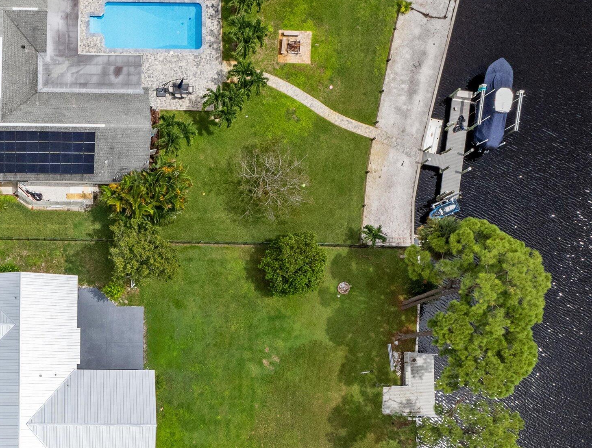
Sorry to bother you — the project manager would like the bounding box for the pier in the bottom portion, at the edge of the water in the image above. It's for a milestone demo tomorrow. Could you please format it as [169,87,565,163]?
[382,351,445,417]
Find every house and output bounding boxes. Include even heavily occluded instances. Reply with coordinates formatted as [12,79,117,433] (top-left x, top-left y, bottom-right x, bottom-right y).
[0,270,157,448]
[0,0,152,185]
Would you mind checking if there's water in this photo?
Yes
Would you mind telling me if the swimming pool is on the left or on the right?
left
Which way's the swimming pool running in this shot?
from left to right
